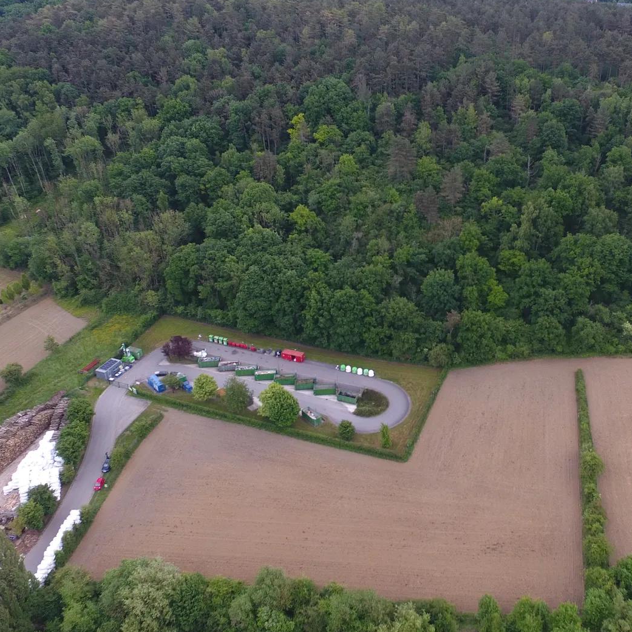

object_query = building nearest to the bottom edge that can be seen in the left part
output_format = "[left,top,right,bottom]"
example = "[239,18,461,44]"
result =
[96,358,124,380]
